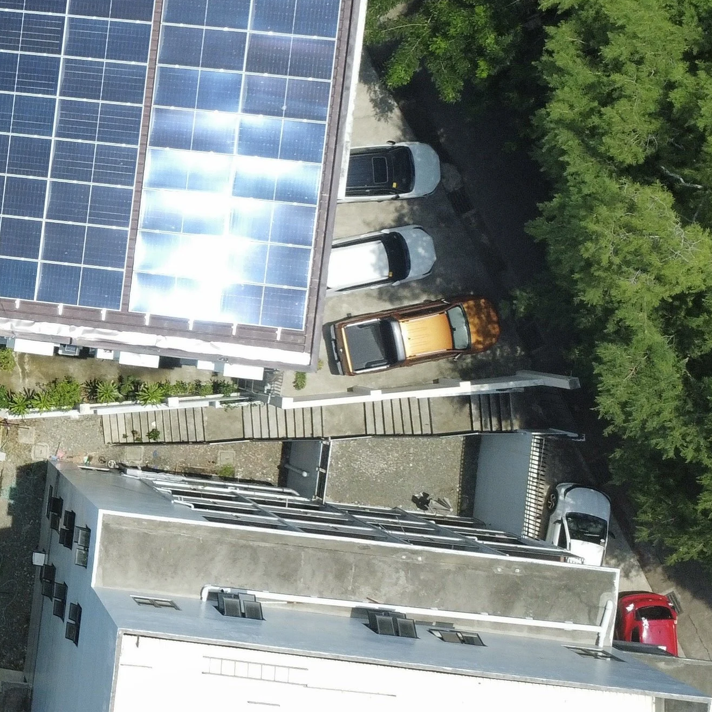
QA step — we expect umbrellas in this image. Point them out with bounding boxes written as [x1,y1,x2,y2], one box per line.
[430,496,451,509]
